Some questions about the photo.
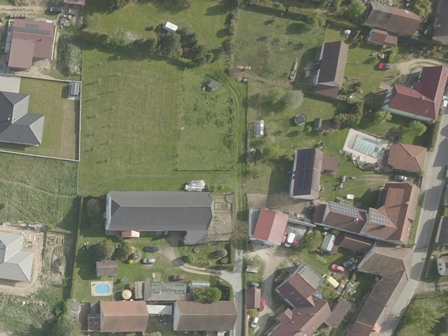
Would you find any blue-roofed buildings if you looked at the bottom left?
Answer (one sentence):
No, looking at the bottom left, there is no blue-roofed building.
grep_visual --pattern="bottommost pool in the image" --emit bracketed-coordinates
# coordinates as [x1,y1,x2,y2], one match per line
[93,282,111,294]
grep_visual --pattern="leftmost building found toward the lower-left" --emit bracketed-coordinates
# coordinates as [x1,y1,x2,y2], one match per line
[0,232,33,283]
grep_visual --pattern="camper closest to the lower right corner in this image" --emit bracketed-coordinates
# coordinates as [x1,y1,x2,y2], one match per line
[436,257,448,276]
